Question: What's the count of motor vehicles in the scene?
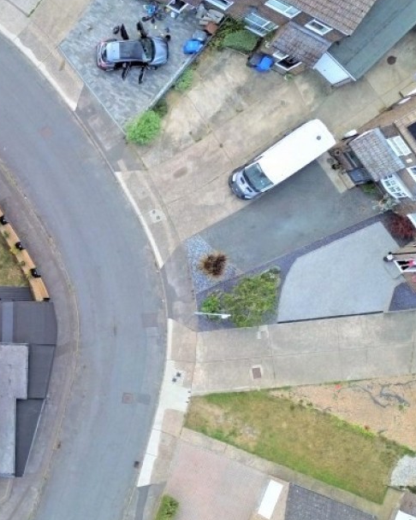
2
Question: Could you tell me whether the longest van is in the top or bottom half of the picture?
top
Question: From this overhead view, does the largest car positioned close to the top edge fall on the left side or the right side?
left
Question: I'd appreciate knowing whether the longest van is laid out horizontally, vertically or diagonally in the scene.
diagonally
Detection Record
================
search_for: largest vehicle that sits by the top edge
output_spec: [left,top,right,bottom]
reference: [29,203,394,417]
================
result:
[98,16,171,81]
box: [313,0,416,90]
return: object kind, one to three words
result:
building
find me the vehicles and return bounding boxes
[98,16,171,81]
[226,119,337,203]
